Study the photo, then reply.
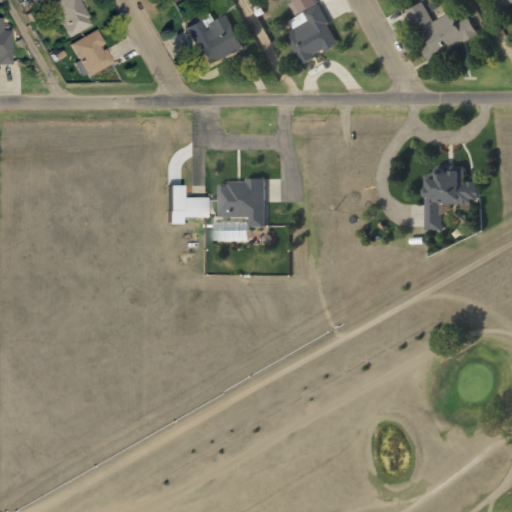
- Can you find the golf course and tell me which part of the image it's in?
bottom right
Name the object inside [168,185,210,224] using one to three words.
barn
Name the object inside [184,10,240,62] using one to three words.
house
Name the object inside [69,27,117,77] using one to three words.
house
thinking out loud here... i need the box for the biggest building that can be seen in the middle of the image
[217,179,266,226]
